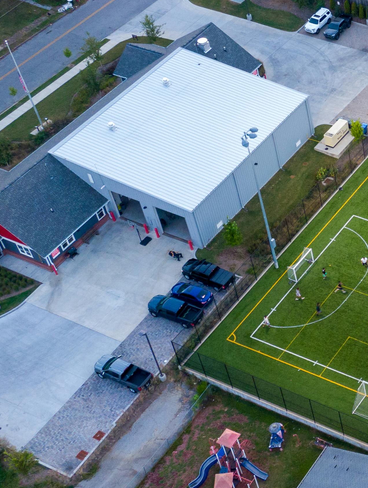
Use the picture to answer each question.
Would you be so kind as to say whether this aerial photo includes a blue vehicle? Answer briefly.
Yes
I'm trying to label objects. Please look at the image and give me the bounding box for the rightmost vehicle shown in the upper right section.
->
[325,12,350,38]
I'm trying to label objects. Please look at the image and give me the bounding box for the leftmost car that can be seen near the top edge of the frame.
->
[308,8,331,31]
